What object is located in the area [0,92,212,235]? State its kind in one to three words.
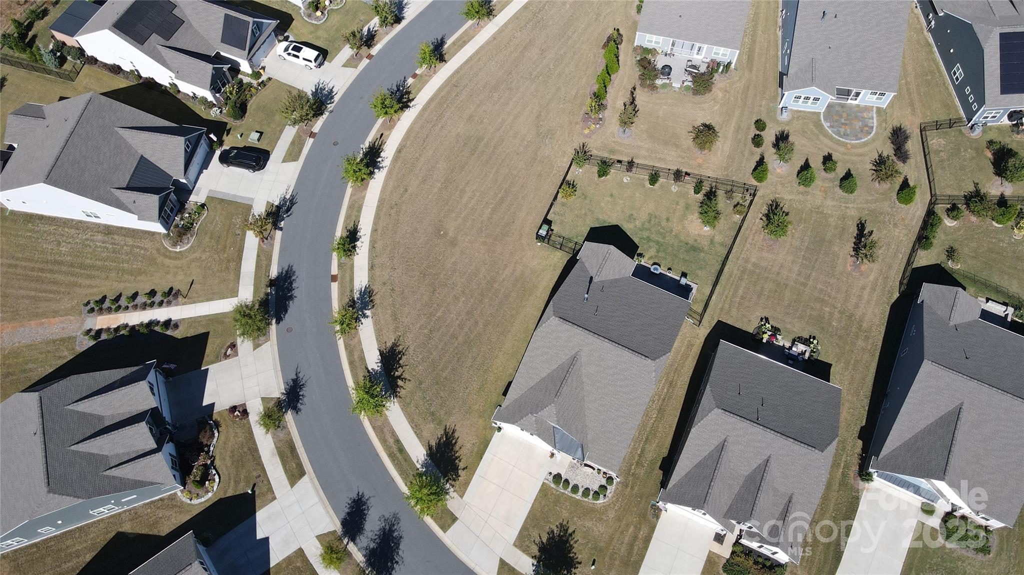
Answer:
house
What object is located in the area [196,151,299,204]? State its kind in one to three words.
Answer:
car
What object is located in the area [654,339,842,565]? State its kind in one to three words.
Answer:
house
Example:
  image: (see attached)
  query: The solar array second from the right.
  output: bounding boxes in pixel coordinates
[221,13,250,50]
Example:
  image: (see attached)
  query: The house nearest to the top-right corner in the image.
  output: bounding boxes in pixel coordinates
[928,0,1024,122]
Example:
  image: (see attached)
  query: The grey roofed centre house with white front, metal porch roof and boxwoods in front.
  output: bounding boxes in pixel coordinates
[490,241,692,478]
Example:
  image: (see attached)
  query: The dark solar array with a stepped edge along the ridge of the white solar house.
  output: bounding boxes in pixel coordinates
[113,0,177,44]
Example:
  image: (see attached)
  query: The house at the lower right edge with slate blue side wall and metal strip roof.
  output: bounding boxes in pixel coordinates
[862,282,1024,538]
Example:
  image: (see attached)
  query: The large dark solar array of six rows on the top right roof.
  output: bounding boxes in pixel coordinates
[999,32,1024,95]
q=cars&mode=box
[271,37,328,70]
[213,143,270,172]
[196,151,299,204]
[260,50,355,104]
